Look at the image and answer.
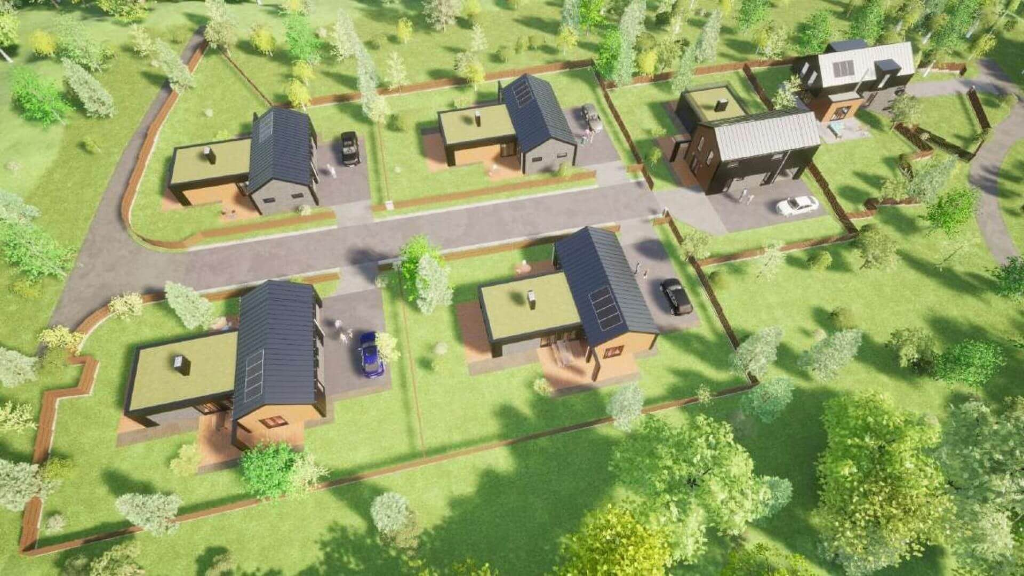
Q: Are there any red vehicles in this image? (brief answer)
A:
No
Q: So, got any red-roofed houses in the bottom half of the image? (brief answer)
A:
No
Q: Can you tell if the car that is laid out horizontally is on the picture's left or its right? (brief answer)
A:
right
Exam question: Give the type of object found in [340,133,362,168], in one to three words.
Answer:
car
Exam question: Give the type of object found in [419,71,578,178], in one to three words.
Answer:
house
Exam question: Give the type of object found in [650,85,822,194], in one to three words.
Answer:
house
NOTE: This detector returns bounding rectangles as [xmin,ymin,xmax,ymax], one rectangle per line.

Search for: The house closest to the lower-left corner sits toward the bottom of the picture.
[115,278,335,473]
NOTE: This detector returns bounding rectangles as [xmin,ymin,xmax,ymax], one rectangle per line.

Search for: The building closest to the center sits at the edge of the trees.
[455,223,661,397]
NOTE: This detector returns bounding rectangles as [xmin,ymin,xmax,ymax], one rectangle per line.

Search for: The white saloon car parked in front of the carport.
[773,194,822,219]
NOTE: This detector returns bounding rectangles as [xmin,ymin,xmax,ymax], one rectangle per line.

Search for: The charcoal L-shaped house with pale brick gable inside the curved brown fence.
[157,104,322,221]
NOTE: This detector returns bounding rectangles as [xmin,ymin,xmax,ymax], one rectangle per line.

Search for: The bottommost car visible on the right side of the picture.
[659,277,694,321]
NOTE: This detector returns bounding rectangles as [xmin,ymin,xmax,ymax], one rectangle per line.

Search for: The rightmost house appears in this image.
[780,37,916,124]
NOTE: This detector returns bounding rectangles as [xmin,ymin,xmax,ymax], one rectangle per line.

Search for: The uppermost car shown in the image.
[578,102,604,134]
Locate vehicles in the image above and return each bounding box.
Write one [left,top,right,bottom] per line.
[578,102,604,134]
[340,133,362,168]
[773,194,822,219]
[659,277,694,321]
[357,334,387,382]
